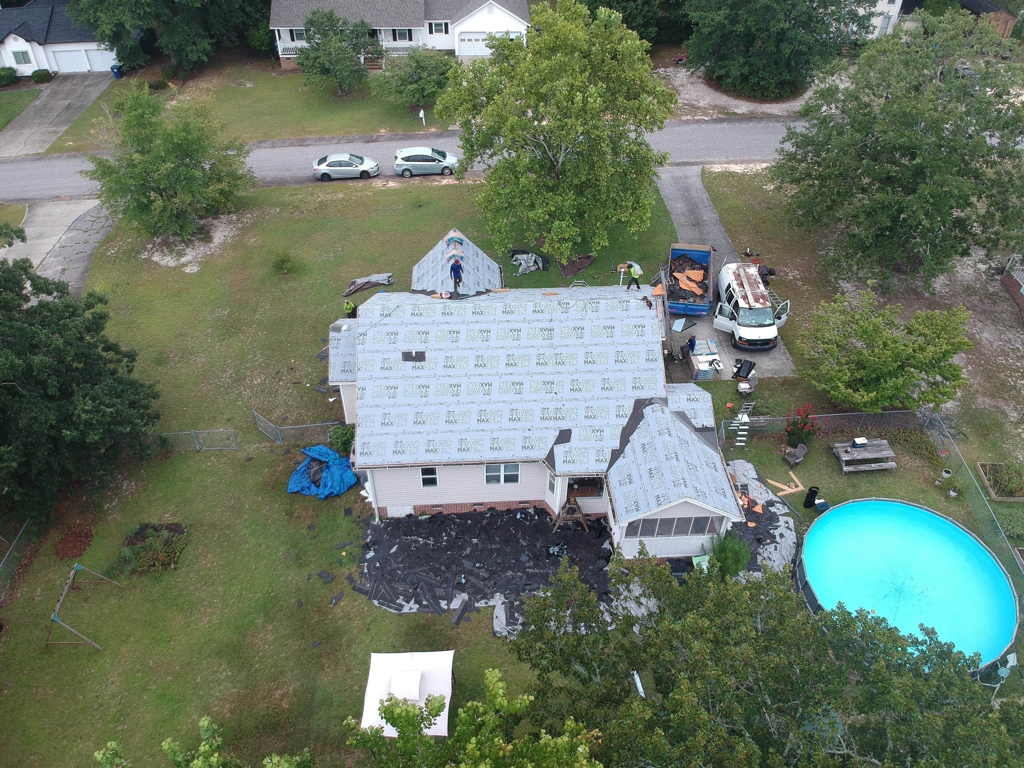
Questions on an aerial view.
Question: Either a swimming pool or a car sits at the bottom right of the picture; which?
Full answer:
You can see a swimming pool at the bottom right of the picture.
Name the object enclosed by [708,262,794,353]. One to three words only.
van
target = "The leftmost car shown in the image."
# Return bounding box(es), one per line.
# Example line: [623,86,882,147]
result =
[311,154,379,181]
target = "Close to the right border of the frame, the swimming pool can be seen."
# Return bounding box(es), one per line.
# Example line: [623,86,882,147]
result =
[783,498,1020,687]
